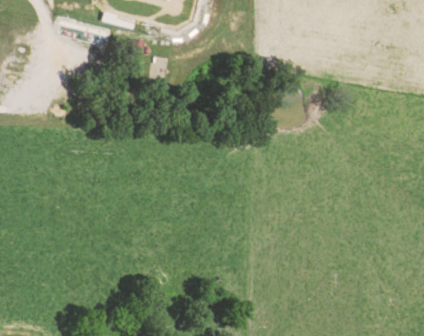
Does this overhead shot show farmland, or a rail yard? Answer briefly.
farmland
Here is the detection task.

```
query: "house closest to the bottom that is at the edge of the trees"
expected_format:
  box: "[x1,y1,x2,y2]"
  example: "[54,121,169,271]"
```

[150,56,168,79]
